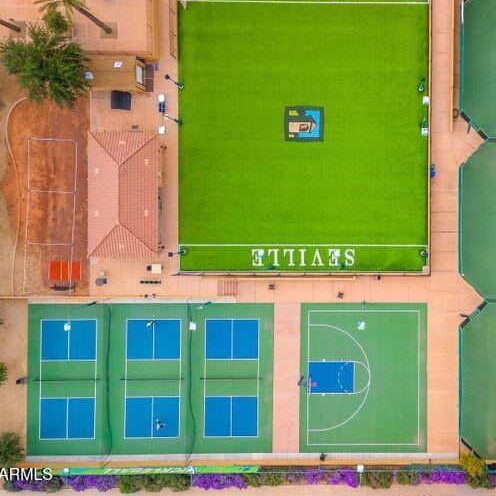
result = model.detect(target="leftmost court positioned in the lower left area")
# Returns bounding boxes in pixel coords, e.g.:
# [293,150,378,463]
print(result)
[28,304,108,455]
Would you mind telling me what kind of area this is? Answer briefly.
sports ground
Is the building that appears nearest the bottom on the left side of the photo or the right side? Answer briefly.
left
